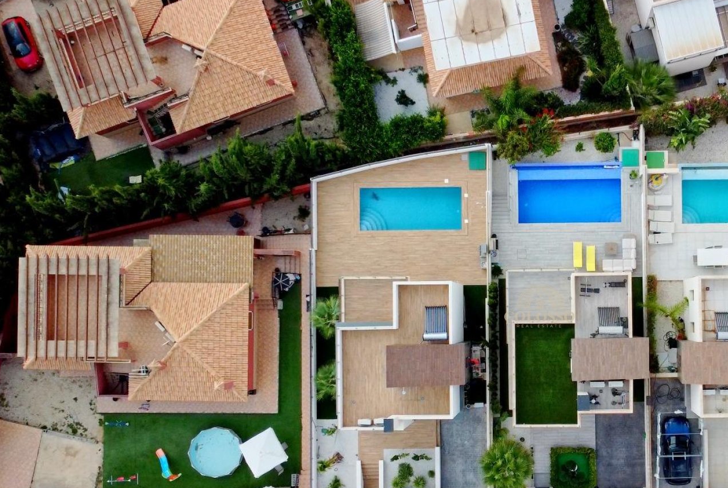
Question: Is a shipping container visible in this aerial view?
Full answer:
No, no shipping container is visible in the scene.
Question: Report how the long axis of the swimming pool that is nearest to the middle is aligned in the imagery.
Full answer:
What the image shows is the swimming pool that is nearest to the middle lying horizontally.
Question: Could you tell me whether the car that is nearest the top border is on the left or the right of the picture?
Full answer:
The car that is nearest the top border sits on the left side.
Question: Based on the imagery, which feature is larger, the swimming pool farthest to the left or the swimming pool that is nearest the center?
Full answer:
Of the two, the swimming pool that is nearest the center is bigger, while the swimming pool farthest to the left is smaller.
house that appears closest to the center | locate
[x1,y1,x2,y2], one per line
[335,276,471,446]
